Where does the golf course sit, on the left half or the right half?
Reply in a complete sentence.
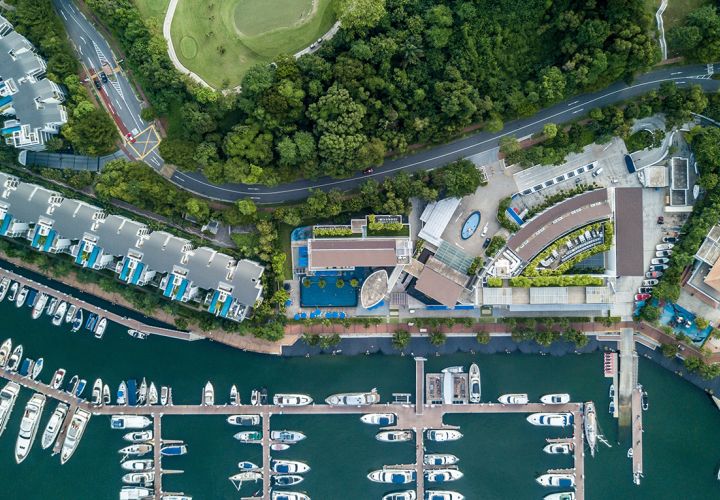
It is on the left.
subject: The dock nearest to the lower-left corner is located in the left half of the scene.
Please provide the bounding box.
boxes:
[0,367,86,455]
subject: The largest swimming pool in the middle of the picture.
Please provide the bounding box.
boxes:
[300,268,396,308]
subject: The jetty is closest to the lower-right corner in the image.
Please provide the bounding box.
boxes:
[631,389,645,473]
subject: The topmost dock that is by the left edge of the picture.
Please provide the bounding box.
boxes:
[0,266,207,341]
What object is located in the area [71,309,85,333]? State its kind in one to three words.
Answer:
boat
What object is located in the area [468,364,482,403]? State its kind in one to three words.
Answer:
boat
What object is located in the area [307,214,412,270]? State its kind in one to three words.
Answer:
building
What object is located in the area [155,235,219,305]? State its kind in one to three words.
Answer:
house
